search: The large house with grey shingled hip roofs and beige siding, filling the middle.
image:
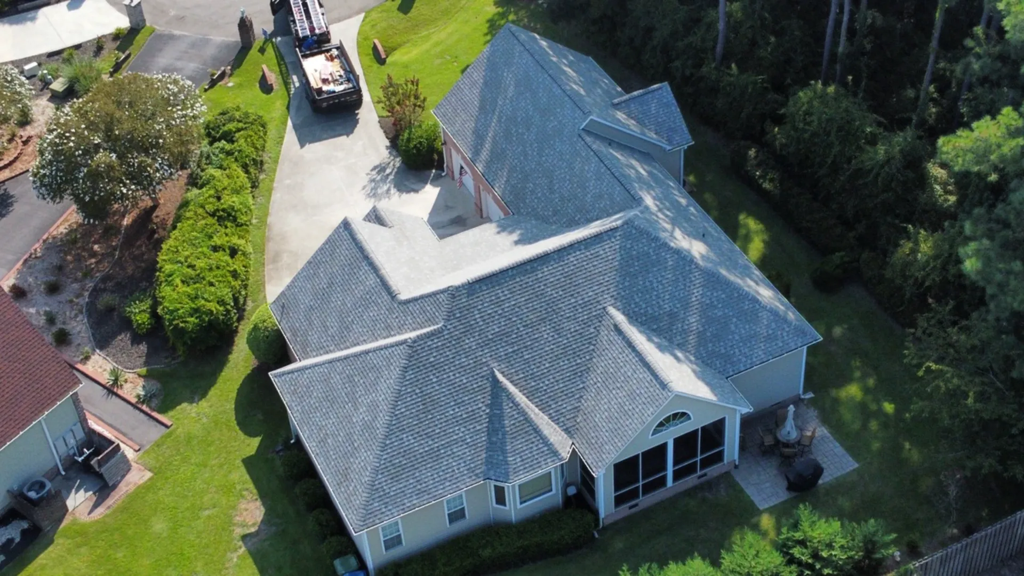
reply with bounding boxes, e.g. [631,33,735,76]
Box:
[265,23,827,576]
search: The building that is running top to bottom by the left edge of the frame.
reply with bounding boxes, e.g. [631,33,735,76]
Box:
[0,287,95,521]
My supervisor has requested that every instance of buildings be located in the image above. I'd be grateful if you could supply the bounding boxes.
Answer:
[265,23,827,576]
[0,287,95,521]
